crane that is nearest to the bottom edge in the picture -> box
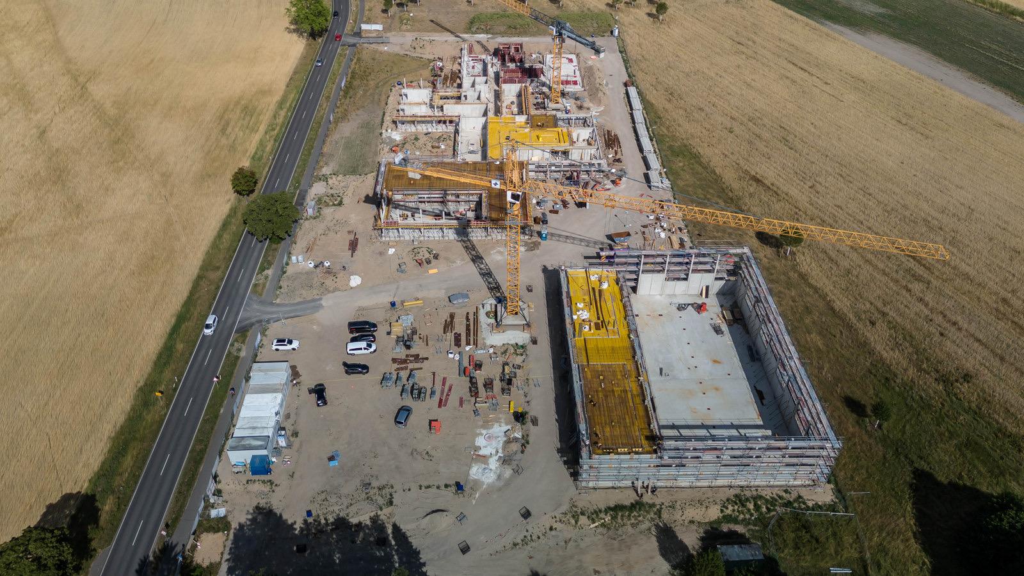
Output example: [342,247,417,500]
[392,138,942,324]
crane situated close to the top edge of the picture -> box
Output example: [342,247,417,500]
[501,0,601,104]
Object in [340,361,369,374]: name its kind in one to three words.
vehicle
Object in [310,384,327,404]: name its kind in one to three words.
car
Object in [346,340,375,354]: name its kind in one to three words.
vehicle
